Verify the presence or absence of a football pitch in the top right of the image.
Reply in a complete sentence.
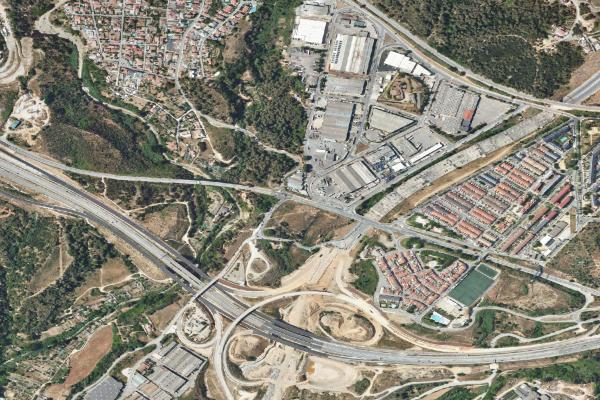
No, no football pitch appears in the top right of the image.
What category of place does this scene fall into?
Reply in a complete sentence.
What you see here is a residential area.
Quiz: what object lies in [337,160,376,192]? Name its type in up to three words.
building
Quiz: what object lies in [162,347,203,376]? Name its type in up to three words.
building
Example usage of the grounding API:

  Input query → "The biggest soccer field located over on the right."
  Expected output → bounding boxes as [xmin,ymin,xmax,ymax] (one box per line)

[449,268,493,309]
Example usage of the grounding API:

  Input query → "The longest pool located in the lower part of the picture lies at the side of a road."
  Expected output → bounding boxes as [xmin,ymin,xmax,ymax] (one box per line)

[431,310,451,326]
